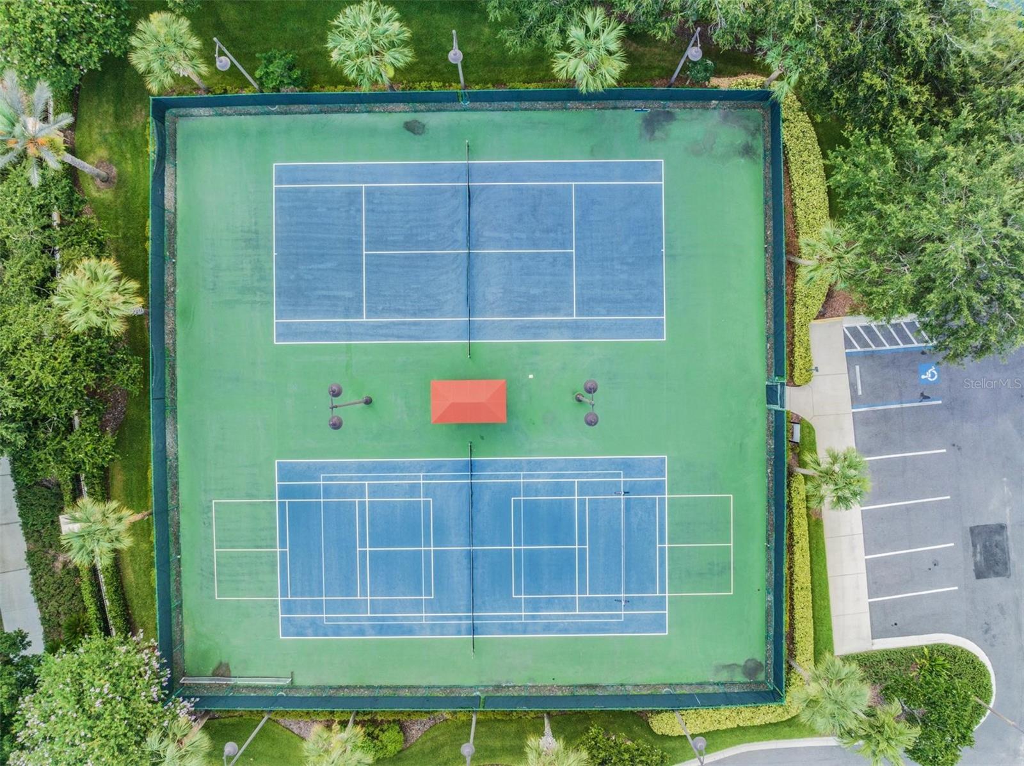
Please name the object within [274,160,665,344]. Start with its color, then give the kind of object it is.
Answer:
blue tennis court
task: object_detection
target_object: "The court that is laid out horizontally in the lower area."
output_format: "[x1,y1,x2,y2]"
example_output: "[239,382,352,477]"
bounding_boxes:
[213,456,733,638]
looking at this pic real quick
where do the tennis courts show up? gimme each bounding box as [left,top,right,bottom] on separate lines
[213,456,733,638]
[274,160,665,344]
